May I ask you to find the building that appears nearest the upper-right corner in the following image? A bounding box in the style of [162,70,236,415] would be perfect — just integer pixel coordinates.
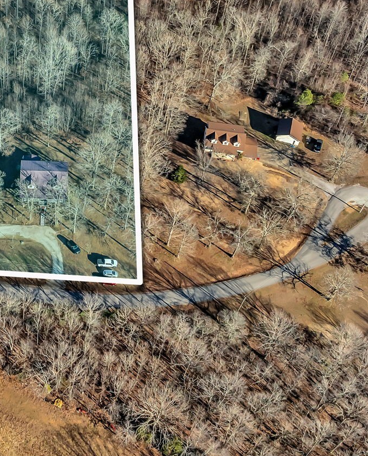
[275,118,305,147]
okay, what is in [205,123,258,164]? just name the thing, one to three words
house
